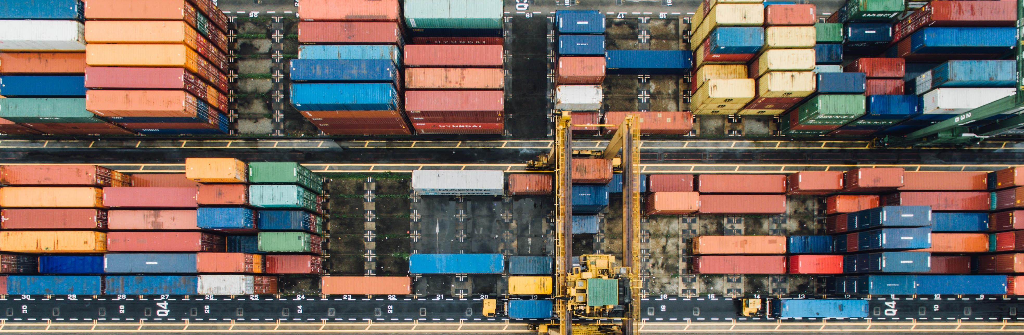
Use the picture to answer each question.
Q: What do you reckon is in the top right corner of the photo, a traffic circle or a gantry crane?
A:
gantry crane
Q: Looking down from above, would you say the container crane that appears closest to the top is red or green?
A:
green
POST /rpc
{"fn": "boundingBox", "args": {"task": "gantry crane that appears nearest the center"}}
[525,110,642,335]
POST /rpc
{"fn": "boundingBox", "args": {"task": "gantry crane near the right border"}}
[869,0,1024,148]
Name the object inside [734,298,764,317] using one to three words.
work vehicle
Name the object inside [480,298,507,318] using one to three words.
work vehicle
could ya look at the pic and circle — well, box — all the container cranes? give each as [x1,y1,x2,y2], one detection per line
[525,110,642,335]
[869,0,1024,148]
